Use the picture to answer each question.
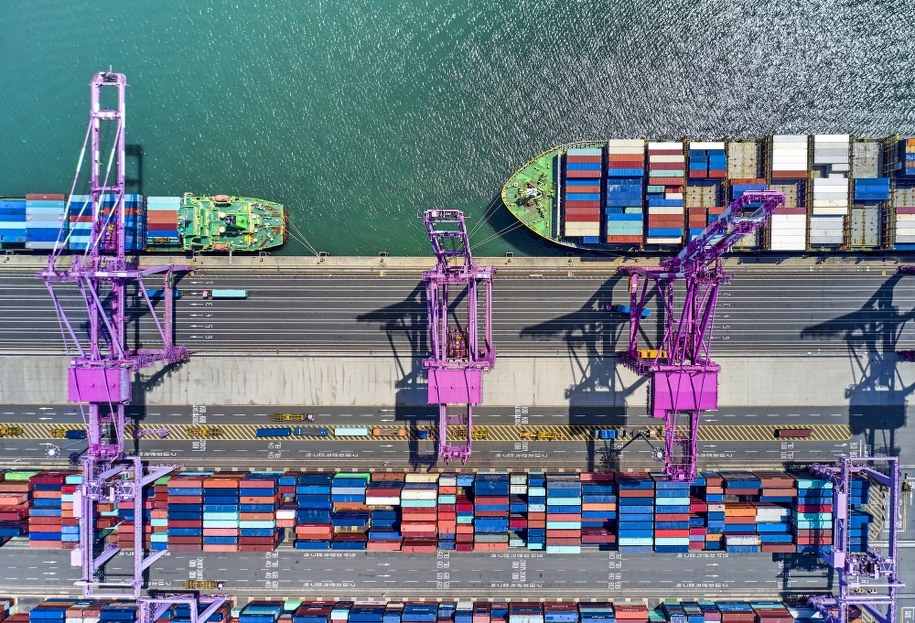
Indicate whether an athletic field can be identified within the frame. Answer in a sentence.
No, I can see no athletic field in this picture.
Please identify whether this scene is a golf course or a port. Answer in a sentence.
What you see here is a port.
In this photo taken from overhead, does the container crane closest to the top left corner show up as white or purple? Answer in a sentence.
The color of the container crane closest to the top left corner is purple.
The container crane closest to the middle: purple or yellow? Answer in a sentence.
In this view, the container crane closest to the middle is purple.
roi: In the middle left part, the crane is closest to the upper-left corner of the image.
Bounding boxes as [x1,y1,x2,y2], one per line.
[27,59,208,466]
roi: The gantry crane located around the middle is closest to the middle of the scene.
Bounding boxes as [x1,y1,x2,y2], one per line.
[404,206,505,466]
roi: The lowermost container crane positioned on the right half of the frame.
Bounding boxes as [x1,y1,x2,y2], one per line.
[799,592,901,623]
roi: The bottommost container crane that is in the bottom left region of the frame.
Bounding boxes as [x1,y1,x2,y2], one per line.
[130,592,236,623]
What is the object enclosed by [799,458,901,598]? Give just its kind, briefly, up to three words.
container crane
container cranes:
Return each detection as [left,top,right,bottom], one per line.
[614,194,786,480]
[130,592,236,623]
[27,59,208,466]
[72,456,183,597]
[799,592,901,623]
[404,206,505,466]
[799,458,901,598]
